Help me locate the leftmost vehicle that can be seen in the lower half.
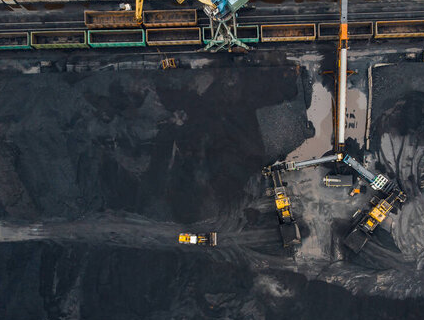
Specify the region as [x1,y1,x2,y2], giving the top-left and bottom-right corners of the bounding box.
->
[179,232,218,246]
